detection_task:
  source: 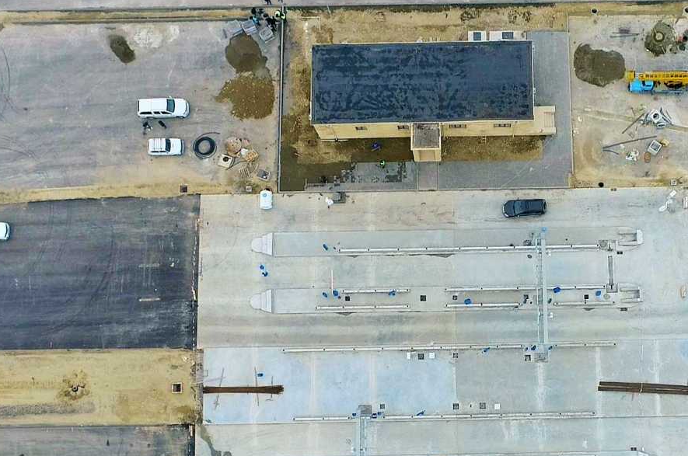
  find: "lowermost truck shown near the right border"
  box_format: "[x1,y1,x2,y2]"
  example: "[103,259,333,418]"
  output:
[625,69,688,99]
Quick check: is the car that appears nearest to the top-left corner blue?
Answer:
No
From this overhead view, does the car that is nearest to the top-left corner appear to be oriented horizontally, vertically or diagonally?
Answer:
horizontally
